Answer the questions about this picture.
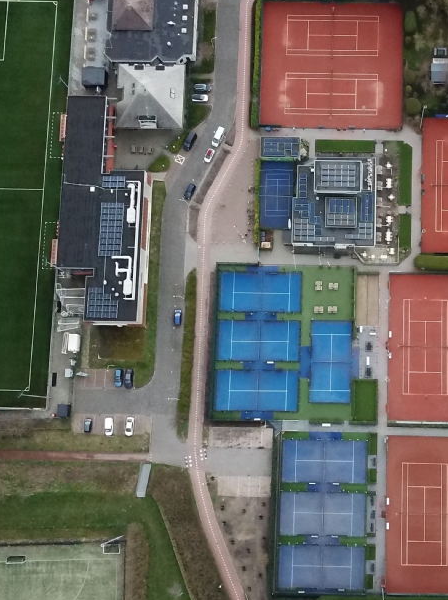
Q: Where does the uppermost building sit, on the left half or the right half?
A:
left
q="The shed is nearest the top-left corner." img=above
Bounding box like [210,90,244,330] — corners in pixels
[83,67,109,90]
